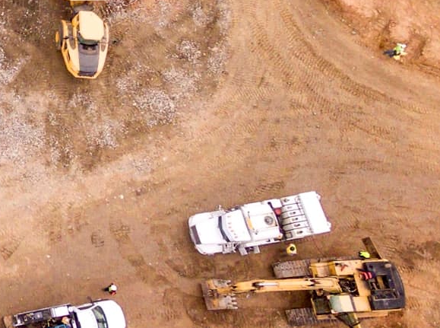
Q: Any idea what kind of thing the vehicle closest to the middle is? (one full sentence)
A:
What you see as the vehicle closest to the middle is a truck.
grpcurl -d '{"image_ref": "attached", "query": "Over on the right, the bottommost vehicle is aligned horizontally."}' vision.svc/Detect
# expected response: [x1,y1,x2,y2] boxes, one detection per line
[207,256,404,328]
